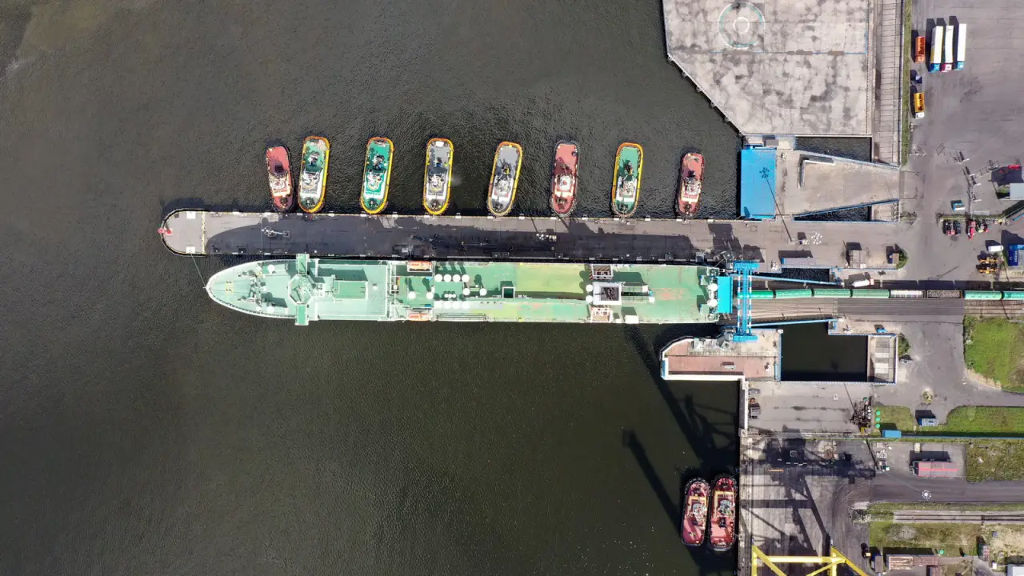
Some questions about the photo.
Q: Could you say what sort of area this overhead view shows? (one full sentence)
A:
What you see here is a port.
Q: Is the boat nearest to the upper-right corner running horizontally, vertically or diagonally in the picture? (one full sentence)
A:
From this overhead view, the boat nearest to the upper-right corner appears to run vertically.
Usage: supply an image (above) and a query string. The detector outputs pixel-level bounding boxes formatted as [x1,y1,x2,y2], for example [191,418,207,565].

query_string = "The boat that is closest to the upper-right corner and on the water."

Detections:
[673,152,703,219]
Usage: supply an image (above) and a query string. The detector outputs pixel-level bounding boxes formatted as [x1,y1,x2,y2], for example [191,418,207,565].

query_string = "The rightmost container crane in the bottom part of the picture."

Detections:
[752,541,873,576]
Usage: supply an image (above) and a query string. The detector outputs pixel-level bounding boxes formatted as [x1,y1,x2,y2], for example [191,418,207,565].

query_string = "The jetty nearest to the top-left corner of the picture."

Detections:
[160,208,740,275]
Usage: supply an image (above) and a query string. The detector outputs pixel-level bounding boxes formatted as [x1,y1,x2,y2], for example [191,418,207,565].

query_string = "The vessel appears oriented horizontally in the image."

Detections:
[205,254,733,325]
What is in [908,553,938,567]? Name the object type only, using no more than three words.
shed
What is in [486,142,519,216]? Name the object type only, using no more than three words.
boat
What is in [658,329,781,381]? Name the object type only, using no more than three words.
pier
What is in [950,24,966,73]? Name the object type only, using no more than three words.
vehicle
